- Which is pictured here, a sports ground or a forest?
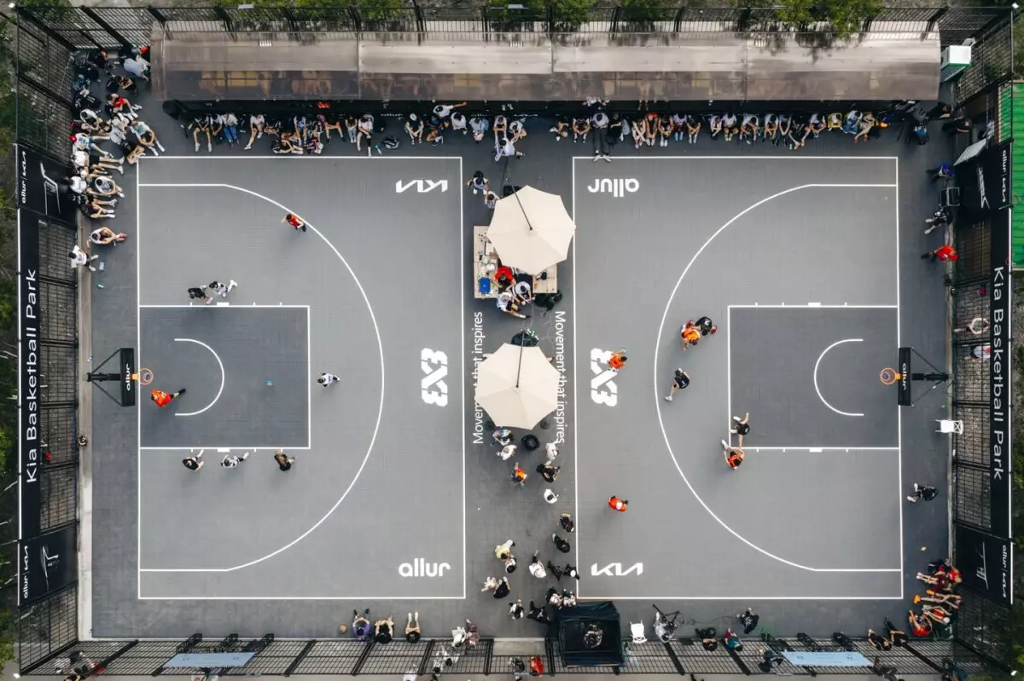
sports ground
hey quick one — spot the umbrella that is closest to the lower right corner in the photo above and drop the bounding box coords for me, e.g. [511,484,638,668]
[473,329,562,430]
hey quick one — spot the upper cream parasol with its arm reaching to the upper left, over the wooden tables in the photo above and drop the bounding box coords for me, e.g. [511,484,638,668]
[486,170,577,276]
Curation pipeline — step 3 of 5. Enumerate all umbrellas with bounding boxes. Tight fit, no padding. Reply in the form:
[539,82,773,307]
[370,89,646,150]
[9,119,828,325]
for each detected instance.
[473,329,562,430]
[486,170,577,276]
